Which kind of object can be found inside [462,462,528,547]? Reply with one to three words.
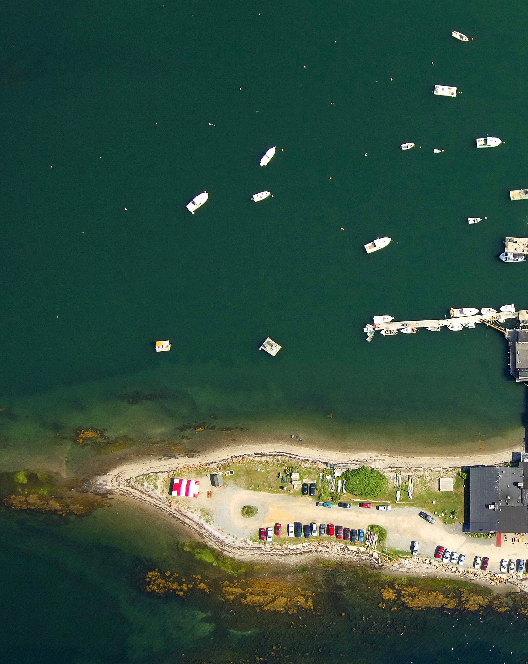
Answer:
building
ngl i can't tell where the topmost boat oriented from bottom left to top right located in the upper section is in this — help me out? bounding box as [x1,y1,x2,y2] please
[259,148,275,167]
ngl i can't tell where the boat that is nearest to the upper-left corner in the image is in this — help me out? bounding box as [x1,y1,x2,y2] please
[185,194,208,212]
